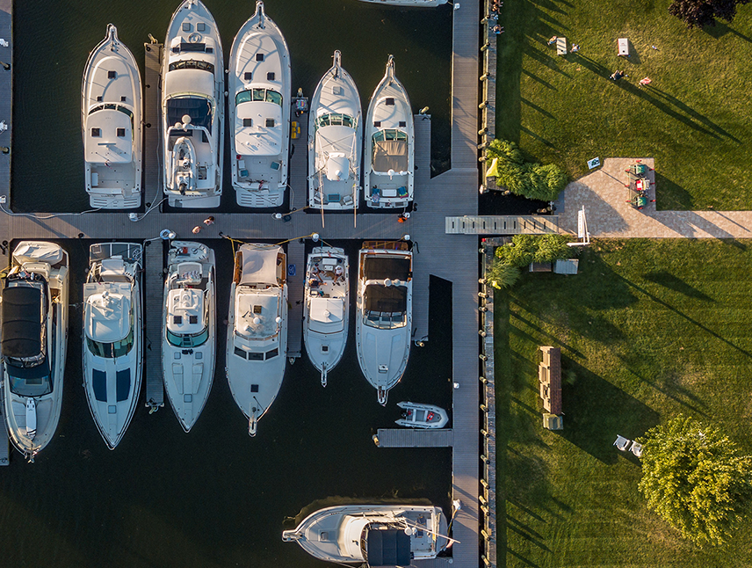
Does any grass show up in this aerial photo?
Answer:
Yes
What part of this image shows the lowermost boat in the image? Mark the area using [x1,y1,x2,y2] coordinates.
[282,501,461,568]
